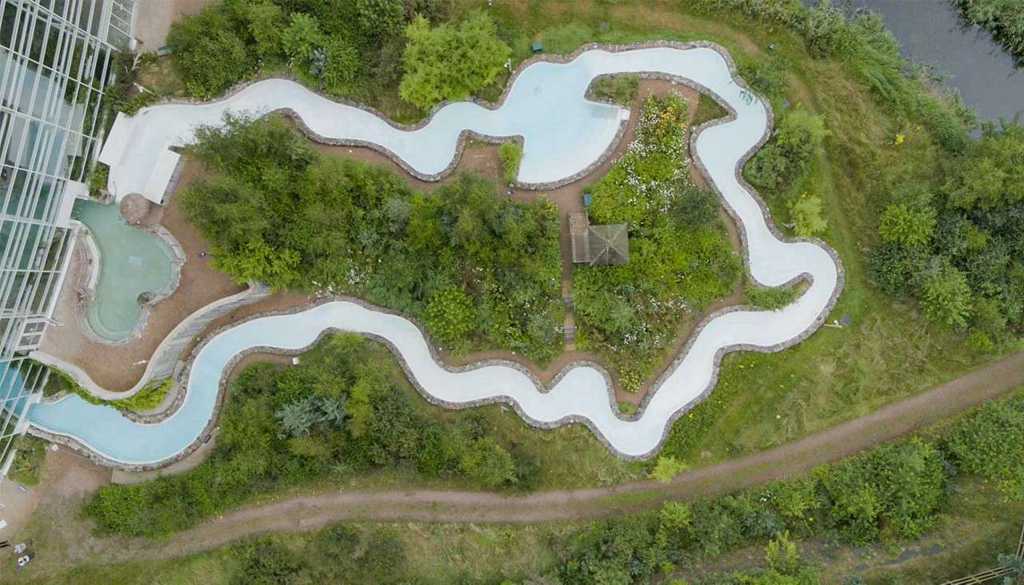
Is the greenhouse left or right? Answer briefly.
left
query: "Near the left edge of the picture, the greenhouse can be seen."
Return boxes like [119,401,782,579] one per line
[0,0,157,508]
